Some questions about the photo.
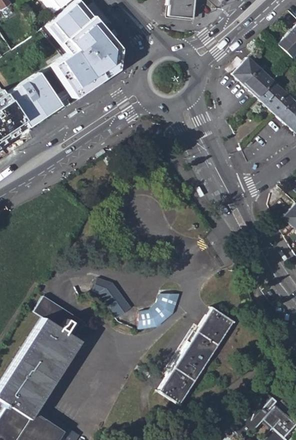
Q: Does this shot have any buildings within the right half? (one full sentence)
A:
Yes, I can see a building within the right half.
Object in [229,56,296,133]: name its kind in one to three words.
house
